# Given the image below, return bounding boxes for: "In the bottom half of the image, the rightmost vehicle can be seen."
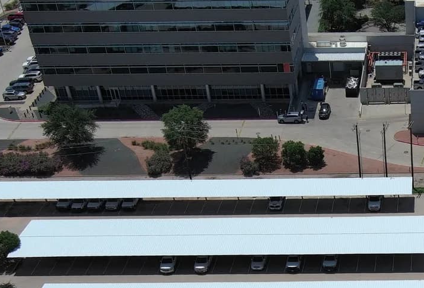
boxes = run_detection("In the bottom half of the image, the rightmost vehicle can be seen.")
[368,197,382,210]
